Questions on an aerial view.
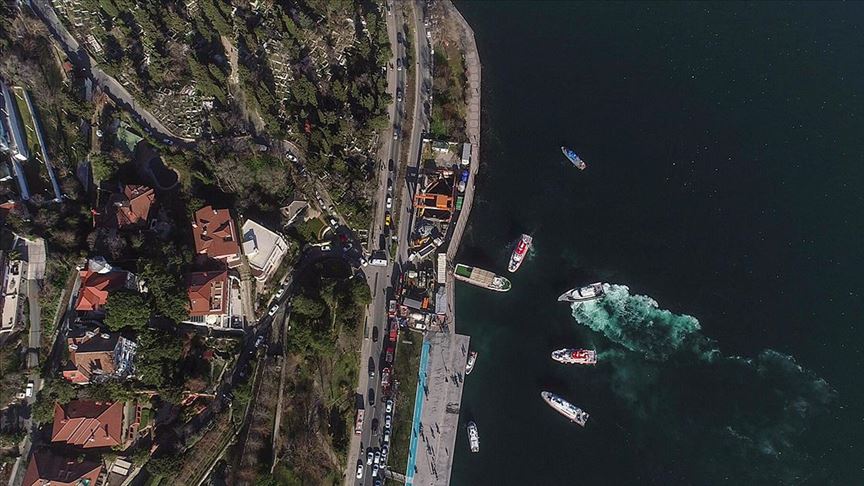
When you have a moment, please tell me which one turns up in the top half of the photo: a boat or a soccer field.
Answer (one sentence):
Looking in the top half of the photo, you will find a boat.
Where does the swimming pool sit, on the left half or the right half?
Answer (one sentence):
You can find the swimming pool on the left side of the picture.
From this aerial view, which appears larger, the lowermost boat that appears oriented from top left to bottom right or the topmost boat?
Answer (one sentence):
The larger object is the lowermost boat that appears oriented from top left to bottom right, with the topmost boat being the smaller of the pair.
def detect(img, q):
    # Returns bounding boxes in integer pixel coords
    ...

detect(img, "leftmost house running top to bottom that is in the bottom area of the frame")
[0,260,33,332]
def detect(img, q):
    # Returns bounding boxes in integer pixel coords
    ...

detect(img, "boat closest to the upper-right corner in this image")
[562,146,587,170]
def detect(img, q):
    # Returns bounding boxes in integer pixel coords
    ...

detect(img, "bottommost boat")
[467,423,480,453]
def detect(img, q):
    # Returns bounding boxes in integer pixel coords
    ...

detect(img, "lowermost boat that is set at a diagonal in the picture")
[543,394,590,425]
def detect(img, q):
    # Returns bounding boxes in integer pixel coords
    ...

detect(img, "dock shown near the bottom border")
[405,334,471,486]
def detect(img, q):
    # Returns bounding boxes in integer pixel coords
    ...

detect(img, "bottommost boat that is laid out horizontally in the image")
[553,349,597,364]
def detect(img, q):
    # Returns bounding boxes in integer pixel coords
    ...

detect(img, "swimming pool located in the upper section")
[148,155,184,192]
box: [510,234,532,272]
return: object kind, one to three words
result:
boat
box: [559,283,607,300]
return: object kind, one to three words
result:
boat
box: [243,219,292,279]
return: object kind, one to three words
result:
house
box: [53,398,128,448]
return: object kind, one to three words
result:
house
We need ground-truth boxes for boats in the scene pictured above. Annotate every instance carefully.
[562,146,587,170]
[510,234,532,272]
[456,263,512,290]
[467,423,480,453]
[543,394,590,425]
[559,283,607,300]
[467,352,478,375]
[553,349,597,364]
